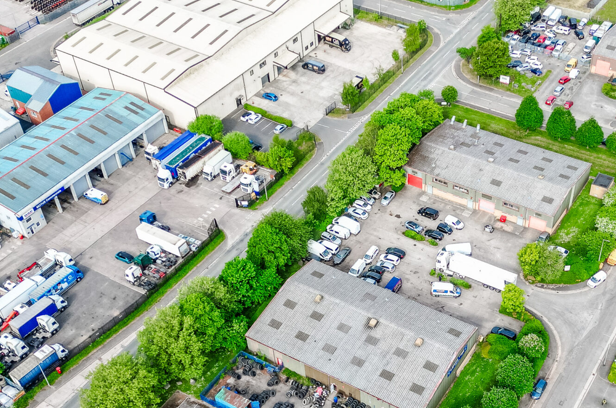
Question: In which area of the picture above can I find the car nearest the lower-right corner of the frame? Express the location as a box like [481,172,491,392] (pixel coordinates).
[530,378,550,401]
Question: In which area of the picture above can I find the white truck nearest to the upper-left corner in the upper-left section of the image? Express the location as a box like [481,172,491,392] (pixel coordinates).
[69,0,125,31]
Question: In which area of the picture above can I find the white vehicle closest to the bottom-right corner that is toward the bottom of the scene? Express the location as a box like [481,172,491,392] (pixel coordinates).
[585,274,608,290]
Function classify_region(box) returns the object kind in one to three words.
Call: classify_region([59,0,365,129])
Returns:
warehouse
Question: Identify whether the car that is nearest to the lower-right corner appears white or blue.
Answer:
blue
